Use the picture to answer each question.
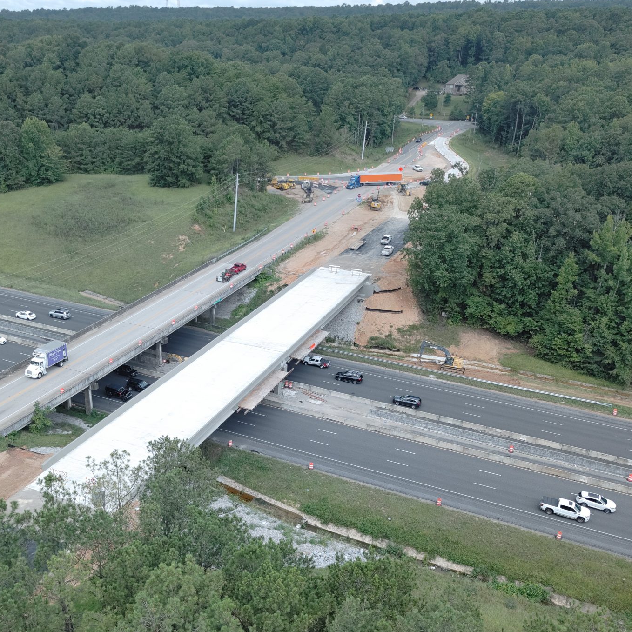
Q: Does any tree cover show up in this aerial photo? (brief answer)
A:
Yes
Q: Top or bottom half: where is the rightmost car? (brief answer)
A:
bottom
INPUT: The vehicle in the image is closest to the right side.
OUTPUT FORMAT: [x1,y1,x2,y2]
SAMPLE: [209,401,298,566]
[577,489,618,513]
